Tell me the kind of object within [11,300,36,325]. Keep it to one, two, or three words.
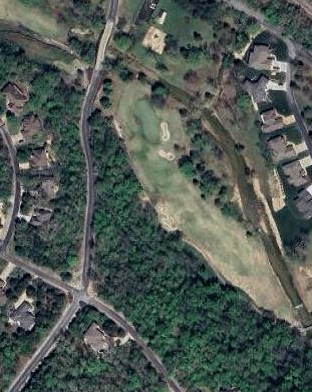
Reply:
house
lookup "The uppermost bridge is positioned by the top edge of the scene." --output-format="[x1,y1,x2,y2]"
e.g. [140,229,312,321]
[93,10,117,64]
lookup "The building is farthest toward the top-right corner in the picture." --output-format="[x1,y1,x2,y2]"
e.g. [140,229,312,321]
[246,43,270,72]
